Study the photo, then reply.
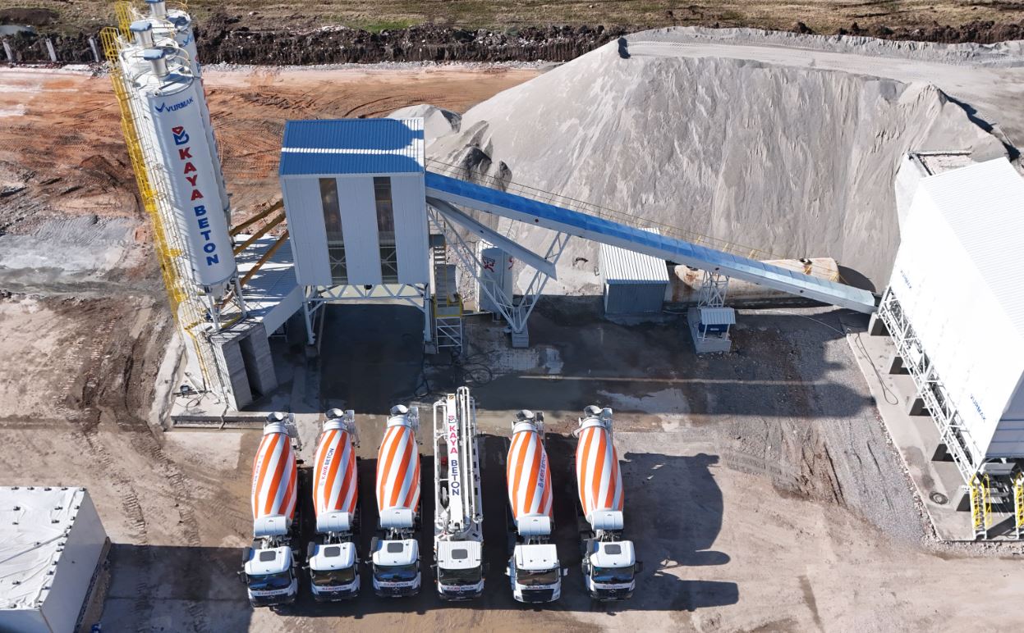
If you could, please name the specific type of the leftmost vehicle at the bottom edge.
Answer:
truck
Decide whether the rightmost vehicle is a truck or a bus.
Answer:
truck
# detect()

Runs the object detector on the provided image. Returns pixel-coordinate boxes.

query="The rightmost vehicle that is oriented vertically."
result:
[571,411,649,599]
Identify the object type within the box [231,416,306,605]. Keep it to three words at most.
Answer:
truck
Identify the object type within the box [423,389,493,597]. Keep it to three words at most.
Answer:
truck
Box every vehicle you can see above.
[571,411,649,599]
[295,411,367,599]
[502,412,572,600]
[359,408,430,594]
[423,389,493,597]
[231,416,306,605]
